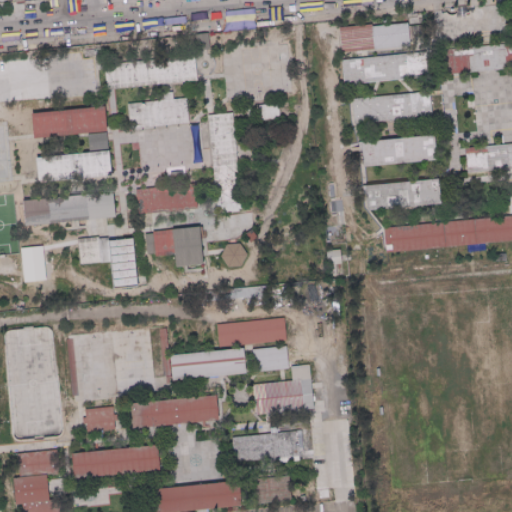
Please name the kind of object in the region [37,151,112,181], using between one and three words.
building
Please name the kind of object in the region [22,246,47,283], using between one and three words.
shed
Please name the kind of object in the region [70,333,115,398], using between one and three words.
sports court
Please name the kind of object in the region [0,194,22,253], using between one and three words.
soccer field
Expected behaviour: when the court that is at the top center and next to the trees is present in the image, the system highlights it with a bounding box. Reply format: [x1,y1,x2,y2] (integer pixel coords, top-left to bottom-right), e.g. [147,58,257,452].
[224,44,297,102]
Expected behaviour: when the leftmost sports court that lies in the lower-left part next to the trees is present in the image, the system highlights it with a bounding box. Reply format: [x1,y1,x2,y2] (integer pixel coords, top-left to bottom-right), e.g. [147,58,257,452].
[2,325,64,441]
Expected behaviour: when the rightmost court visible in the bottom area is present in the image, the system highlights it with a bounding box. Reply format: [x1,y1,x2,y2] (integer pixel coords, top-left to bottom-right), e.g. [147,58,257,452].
[174,425,224,484]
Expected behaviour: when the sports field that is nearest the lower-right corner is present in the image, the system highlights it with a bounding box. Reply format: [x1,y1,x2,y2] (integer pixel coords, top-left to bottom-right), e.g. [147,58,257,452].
[384,288,512,486]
